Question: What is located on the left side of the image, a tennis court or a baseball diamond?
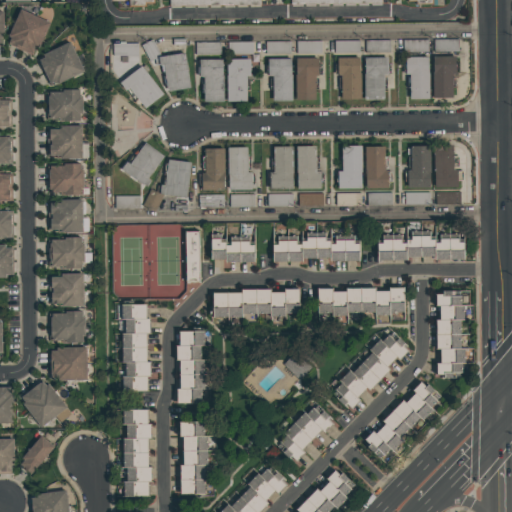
tennis court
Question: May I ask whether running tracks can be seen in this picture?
No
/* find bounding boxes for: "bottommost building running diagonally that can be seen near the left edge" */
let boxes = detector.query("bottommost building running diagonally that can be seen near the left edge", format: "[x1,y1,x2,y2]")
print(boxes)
[22,436,55,474]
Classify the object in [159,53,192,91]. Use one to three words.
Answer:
building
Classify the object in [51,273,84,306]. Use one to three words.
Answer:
house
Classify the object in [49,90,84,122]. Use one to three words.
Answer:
house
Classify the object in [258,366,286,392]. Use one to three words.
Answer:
swimming pool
